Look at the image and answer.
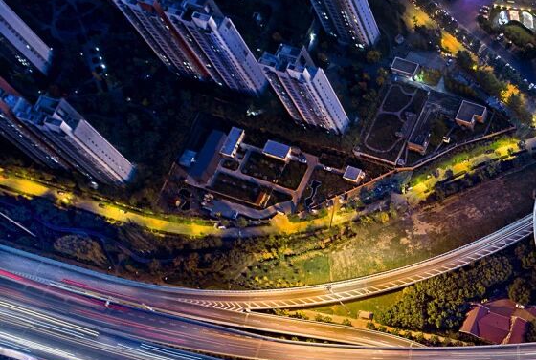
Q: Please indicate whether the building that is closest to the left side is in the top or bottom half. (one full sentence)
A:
You can find the building that is closest to the left side in the top half.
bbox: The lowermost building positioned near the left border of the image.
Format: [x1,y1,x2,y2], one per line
[0,89,136,184]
